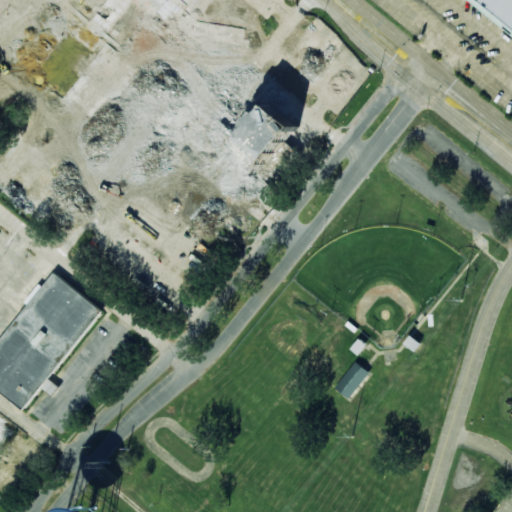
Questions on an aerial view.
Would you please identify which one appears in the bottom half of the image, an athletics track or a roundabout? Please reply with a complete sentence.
There is an athletics track in the bottom half of the image.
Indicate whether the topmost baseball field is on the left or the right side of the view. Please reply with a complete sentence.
It is on the right.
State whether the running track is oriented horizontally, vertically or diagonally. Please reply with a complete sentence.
The running track runs diagonally in the image.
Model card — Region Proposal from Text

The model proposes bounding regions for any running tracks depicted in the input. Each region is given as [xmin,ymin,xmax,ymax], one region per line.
[146,418,214,482]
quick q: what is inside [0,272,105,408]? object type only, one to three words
building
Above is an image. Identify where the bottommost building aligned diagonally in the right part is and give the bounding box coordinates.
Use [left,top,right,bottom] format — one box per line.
[336,362,369,398]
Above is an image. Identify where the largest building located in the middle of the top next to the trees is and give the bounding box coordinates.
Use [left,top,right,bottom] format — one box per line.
[227,104,300,174]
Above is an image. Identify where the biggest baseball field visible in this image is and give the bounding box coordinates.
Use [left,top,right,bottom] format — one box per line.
[295,227,466,348]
